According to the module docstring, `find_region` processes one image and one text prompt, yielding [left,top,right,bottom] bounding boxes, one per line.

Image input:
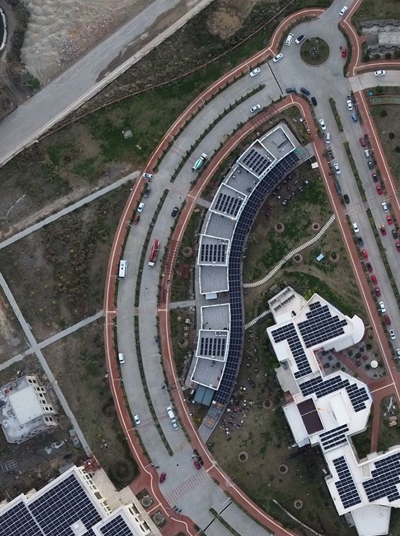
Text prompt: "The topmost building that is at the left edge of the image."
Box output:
[0,376,57,443]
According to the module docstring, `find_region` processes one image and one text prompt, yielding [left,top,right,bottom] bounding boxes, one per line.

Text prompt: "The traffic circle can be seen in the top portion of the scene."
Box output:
[299,37,327,65]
